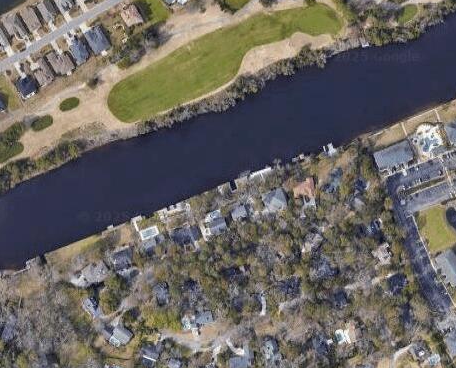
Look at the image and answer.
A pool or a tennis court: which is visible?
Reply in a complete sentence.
Of the two, only a pool appears.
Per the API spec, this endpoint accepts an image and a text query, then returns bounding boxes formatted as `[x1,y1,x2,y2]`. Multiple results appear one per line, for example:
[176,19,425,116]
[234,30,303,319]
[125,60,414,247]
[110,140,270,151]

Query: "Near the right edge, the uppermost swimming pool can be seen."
[416,123,444,156]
